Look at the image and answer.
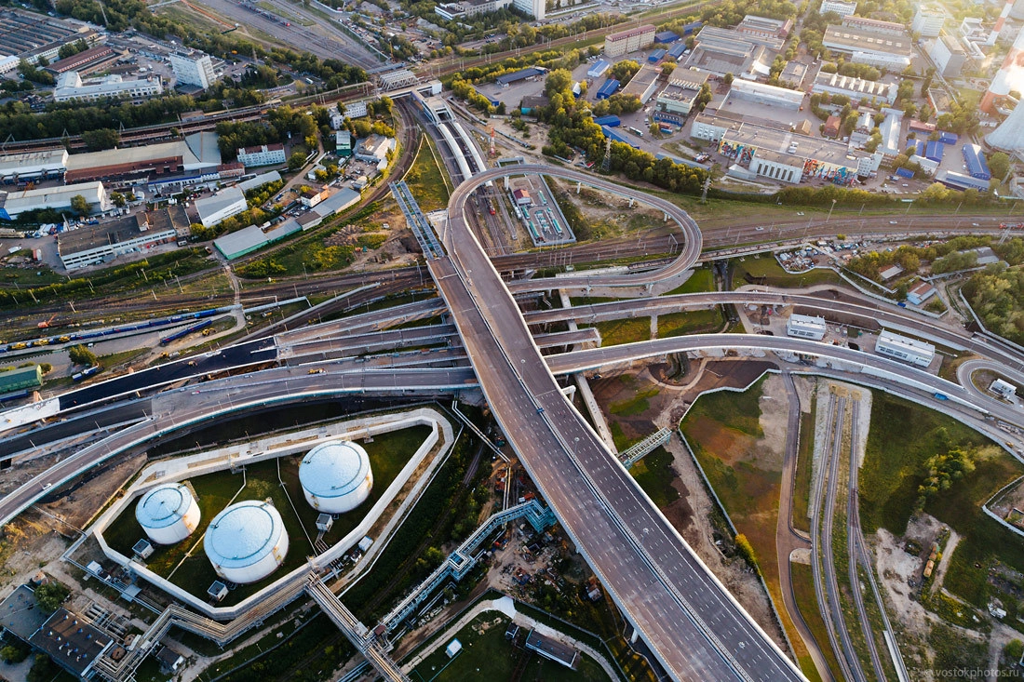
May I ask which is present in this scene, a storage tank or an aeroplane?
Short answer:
storage tank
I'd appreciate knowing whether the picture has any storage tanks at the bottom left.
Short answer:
Yes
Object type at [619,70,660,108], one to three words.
building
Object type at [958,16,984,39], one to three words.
building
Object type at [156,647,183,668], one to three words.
shed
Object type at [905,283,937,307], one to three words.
house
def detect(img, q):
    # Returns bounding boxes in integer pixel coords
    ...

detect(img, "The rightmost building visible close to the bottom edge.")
[525,633,577,670]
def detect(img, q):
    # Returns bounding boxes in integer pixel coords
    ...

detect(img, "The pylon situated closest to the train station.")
[601,133,616,172]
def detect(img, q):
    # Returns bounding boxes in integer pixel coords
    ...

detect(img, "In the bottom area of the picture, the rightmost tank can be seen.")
[300,444,376,520]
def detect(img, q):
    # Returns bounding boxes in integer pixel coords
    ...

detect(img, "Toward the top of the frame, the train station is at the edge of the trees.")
[380,80,457,129]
